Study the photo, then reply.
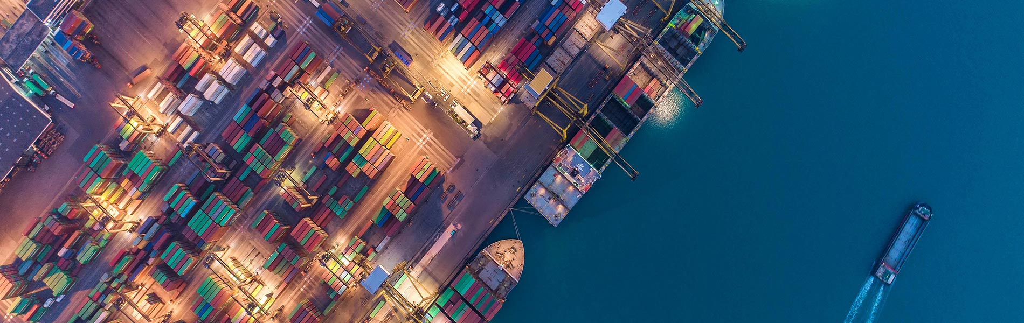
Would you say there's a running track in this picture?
No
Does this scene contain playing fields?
No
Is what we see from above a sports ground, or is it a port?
port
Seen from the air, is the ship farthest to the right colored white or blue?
blue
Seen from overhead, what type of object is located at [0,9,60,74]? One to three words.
building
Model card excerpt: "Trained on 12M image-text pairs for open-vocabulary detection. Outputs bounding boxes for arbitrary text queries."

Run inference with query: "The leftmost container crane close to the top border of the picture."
[176,14,232,60]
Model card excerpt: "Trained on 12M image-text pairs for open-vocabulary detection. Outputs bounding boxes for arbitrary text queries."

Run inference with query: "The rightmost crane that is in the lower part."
[364,252,450,323]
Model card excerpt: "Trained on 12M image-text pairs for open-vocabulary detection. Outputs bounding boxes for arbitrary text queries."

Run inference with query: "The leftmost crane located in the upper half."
[108,93,168,137]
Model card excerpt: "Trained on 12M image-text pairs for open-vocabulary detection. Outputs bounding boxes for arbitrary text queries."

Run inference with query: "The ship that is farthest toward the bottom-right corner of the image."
[870,202,927,284]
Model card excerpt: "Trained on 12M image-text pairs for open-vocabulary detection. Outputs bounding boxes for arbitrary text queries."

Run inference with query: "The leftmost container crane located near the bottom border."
[115,289,171,323]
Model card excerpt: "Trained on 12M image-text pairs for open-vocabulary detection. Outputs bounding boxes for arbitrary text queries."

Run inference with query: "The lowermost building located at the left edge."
[0,66,61,183]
